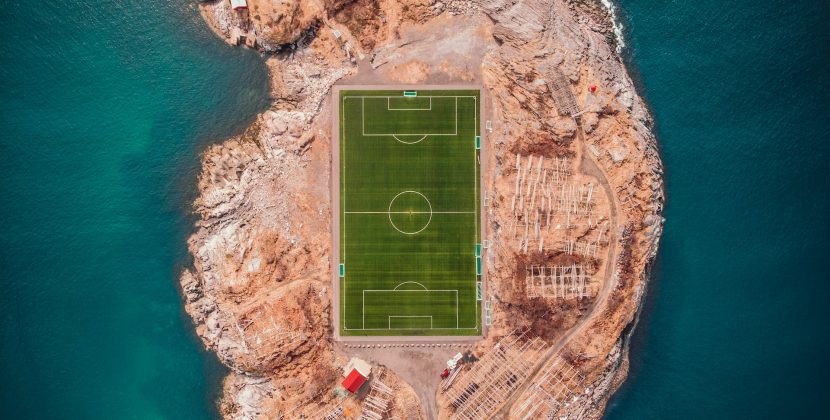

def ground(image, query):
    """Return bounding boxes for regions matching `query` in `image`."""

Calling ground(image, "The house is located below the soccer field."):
[342,368,366,393]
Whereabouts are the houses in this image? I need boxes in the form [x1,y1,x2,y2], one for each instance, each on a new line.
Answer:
[342,368,366,393]
[231,0,249,11]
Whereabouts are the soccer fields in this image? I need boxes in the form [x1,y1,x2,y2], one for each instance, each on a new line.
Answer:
[340,90,482,336]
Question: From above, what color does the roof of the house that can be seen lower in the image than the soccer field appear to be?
red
